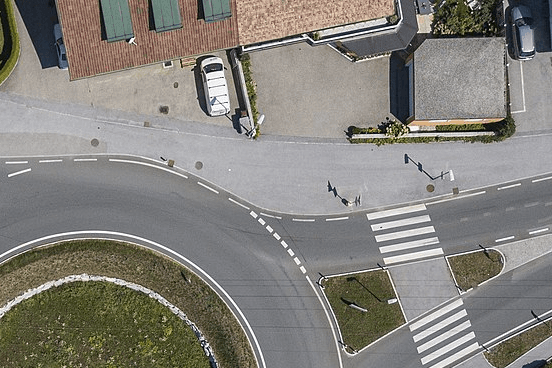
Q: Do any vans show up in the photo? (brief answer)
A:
Yes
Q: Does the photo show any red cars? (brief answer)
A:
No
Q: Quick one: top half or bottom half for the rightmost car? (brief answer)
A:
top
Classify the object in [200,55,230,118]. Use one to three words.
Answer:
van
